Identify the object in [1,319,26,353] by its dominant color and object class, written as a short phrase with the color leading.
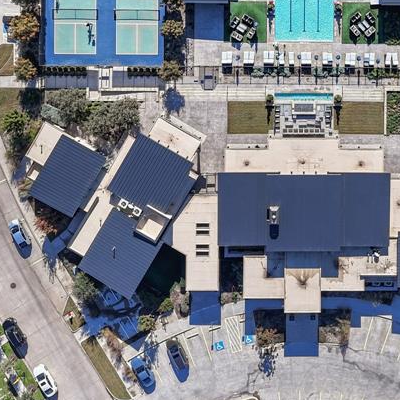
black car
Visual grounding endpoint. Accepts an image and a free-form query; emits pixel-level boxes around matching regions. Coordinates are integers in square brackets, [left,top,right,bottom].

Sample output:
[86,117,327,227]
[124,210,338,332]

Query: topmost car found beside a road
[6,219,31,252]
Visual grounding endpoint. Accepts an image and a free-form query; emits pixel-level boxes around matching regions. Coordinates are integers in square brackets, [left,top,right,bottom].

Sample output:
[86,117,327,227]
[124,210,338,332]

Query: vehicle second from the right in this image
[130,357,156,394]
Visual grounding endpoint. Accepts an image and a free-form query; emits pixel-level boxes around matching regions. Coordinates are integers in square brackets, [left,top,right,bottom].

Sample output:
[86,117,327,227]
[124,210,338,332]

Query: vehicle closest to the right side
[166,341,189,374]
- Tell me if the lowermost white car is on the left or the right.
left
